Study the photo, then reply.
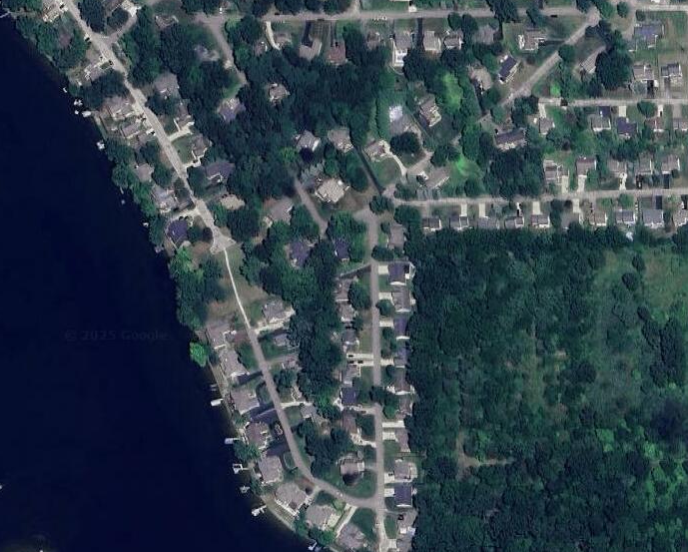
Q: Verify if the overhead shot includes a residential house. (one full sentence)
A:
Yes, the picture does show a residential house.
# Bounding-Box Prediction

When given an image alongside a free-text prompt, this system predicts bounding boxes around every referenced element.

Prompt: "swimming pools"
[394,54,406,66]
[390,107,402,120]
